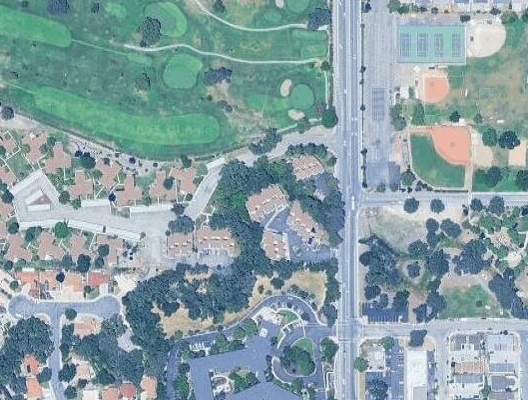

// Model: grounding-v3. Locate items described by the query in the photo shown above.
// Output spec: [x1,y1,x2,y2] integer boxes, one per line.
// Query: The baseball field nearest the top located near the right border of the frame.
[467,16,507,57]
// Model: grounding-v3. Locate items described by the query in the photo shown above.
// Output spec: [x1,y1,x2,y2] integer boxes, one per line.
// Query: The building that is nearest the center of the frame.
[246,183,290,220]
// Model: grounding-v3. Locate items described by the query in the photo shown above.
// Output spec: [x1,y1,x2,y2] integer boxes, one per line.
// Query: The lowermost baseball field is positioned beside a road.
[406,124,472,191]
